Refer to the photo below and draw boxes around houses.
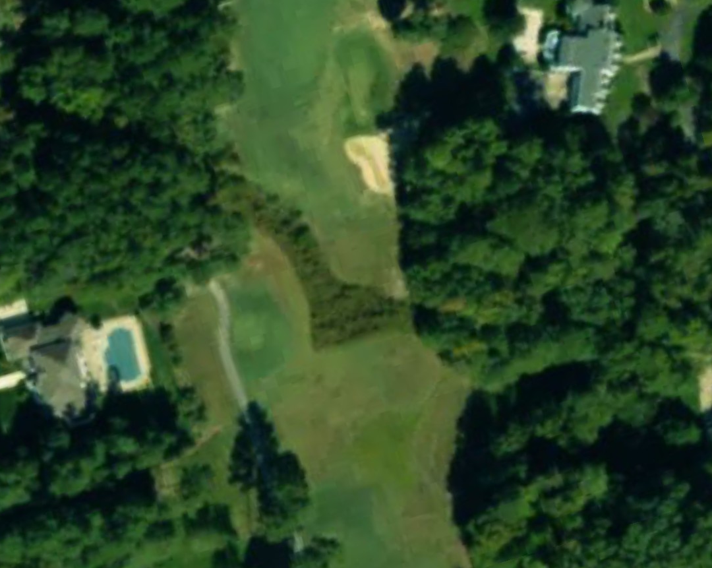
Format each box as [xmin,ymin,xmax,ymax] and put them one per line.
[544,0,620,113]
[0,309,95,419]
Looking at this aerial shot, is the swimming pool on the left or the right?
left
